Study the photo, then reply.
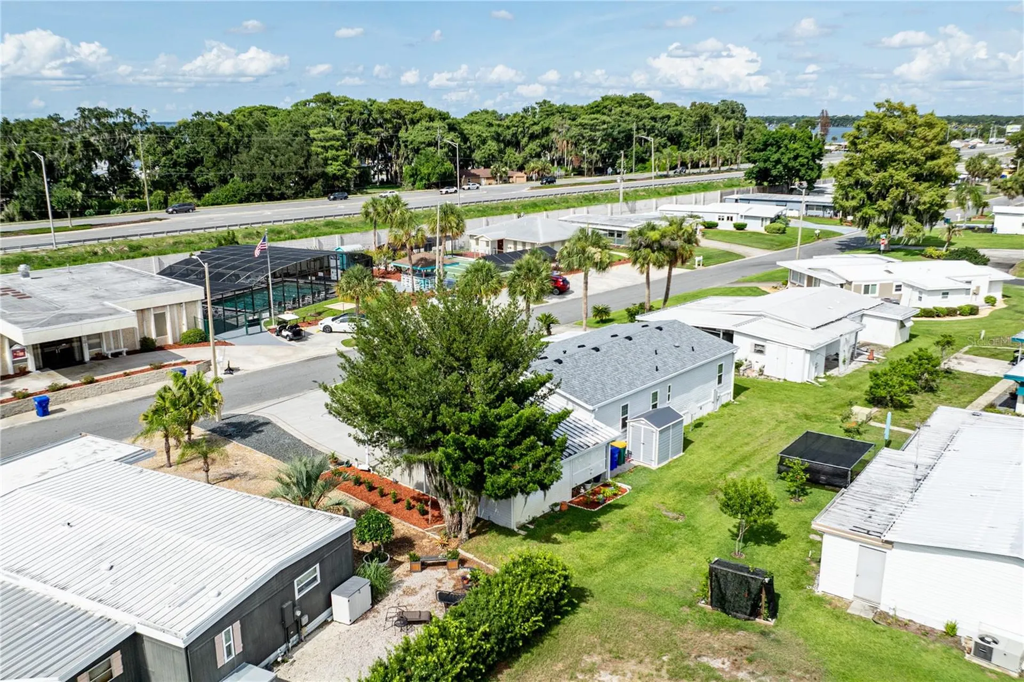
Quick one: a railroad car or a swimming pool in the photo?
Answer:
swimming pool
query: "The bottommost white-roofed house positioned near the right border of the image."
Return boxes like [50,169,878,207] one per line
[807,403,1024,634]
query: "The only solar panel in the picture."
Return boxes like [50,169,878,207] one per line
[480,248,558,273]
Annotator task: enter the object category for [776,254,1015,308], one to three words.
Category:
house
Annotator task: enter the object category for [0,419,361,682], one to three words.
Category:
house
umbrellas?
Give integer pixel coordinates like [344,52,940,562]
[324,302,368,312]
[882,412,893,447]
